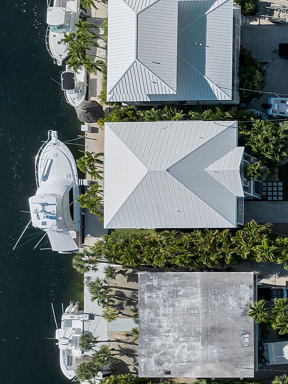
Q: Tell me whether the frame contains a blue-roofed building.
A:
No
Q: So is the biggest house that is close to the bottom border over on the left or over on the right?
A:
right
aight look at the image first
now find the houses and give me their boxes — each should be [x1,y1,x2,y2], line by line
[107,0,249,109]
[104,120,271,228]
[138,272,265,378]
